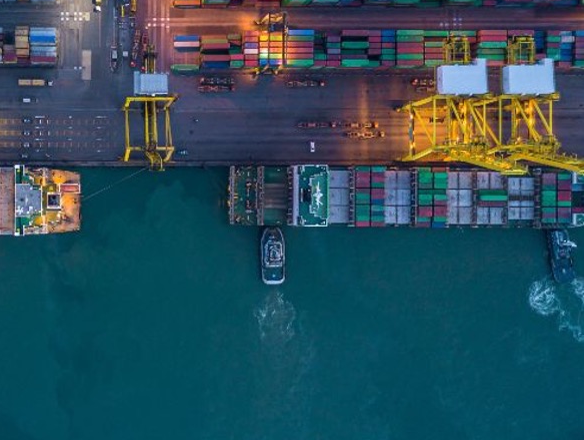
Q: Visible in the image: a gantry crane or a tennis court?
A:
gantry crane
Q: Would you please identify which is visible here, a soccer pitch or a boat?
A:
boat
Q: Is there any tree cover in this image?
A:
No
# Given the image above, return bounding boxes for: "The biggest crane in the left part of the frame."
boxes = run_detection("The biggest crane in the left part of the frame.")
[116,35,179,167]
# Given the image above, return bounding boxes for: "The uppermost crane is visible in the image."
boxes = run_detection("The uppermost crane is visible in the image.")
[252,12,284,76]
